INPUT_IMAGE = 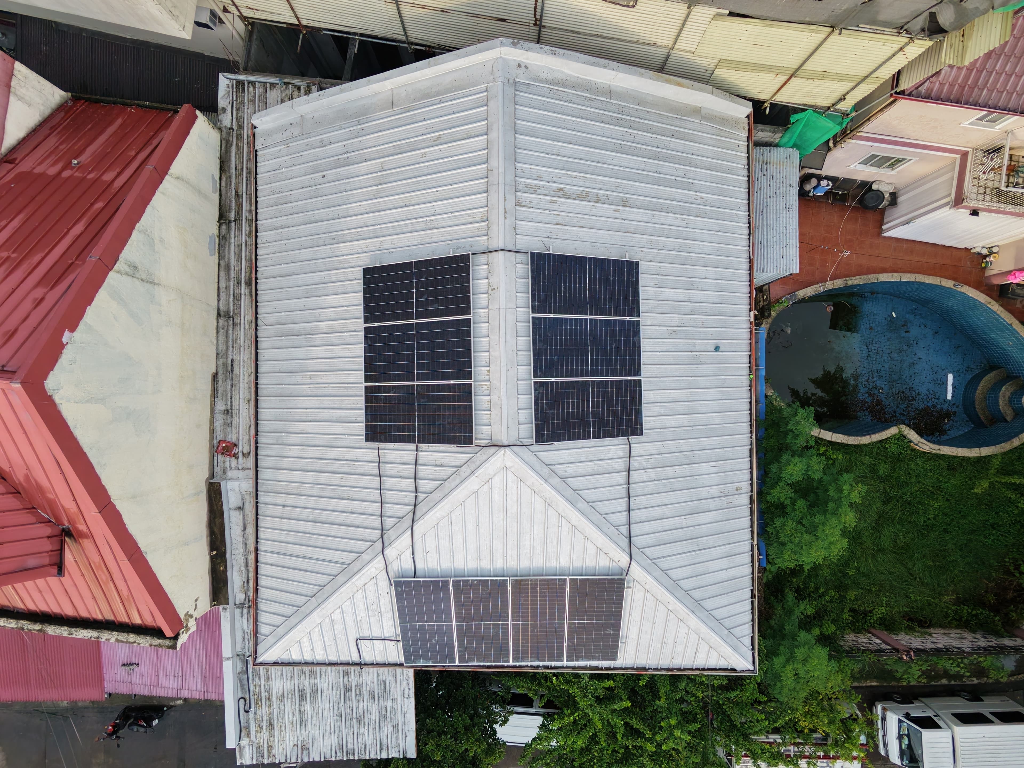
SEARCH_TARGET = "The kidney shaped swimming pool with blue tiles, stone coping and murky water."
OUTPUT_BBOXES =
[761,272,1024,458]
